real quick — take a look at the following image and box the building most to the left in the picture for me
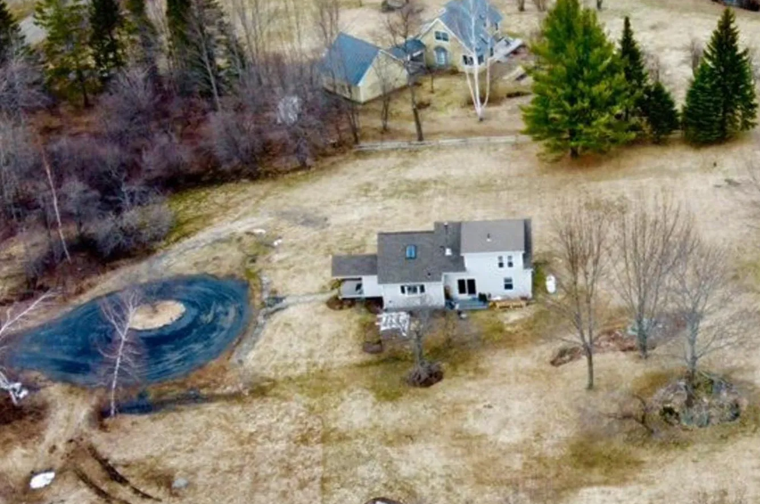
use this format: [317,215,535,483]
[315,36,409,103]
